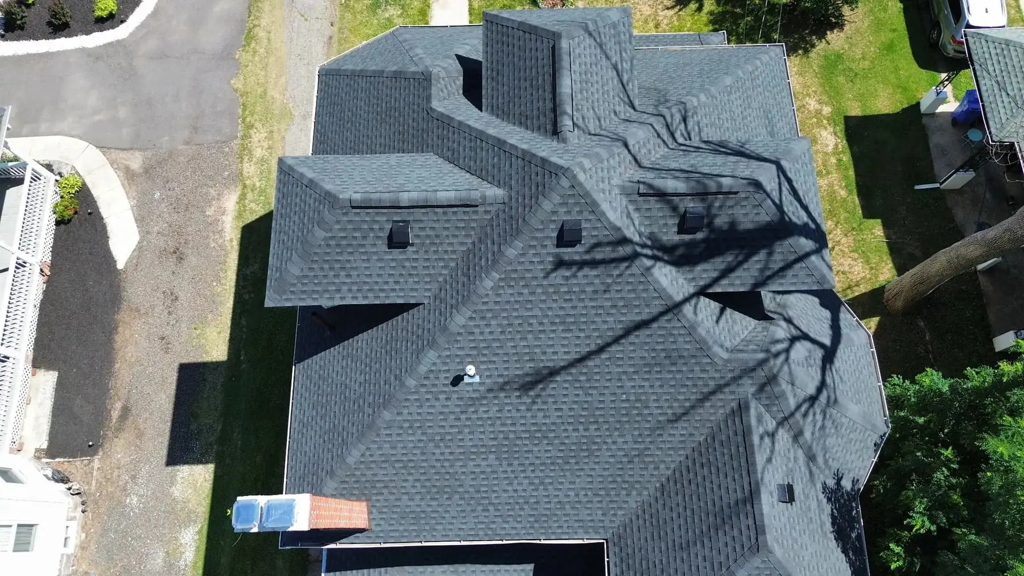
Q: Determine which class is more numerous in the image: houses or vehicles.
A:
houses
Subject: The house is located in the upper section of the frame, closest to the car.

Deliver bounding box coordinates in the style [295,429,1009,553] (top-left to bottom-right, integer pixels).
[960,27,1024,181]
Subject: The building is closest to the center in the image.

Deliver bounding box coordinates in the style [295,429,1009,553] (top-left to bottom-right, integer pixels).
[220,7,888,576]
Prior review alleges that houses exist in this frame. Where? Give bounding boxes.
[0,109,78,576]
[220,7,888,576]
[960,27,1024,181]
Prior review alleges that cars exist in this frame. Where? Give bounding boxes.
[924,0,1008,59]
